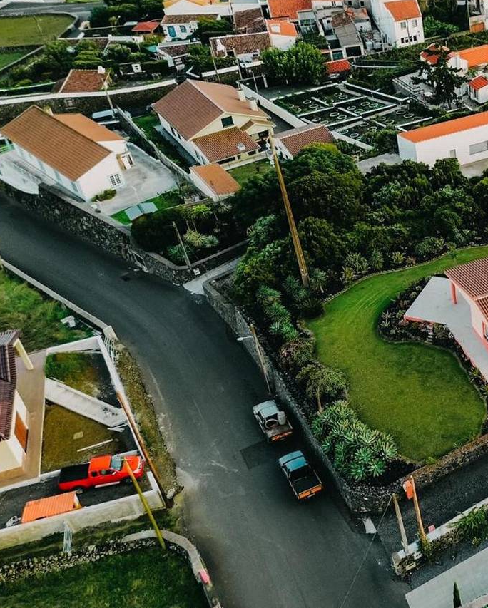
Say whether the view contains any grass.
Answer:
Yes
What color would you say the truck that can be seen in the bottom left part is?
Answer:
red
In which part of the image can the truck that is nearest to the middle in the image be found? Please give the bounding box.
[253,401,293,450]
